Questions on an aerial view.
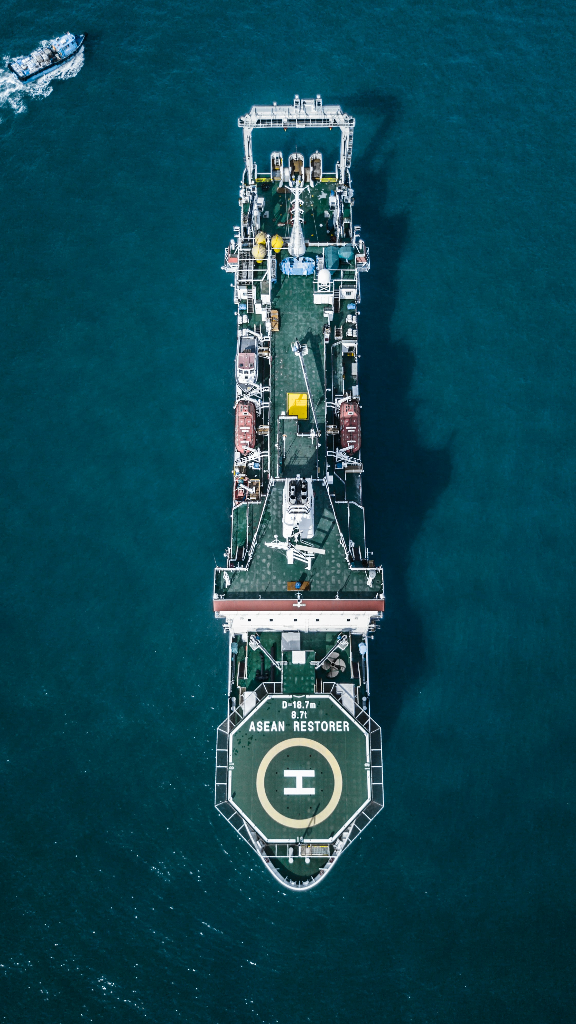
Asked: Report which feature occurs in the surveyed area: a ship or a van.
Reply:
ship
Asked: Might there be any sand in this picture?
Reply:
No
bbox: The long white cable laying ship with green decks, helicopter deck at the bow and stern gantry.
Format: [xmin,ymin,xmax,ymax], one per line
[212,94,386,891]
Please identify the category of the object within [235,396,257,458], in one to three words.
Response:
boat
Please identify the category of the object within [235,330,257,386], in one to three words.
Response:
boat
